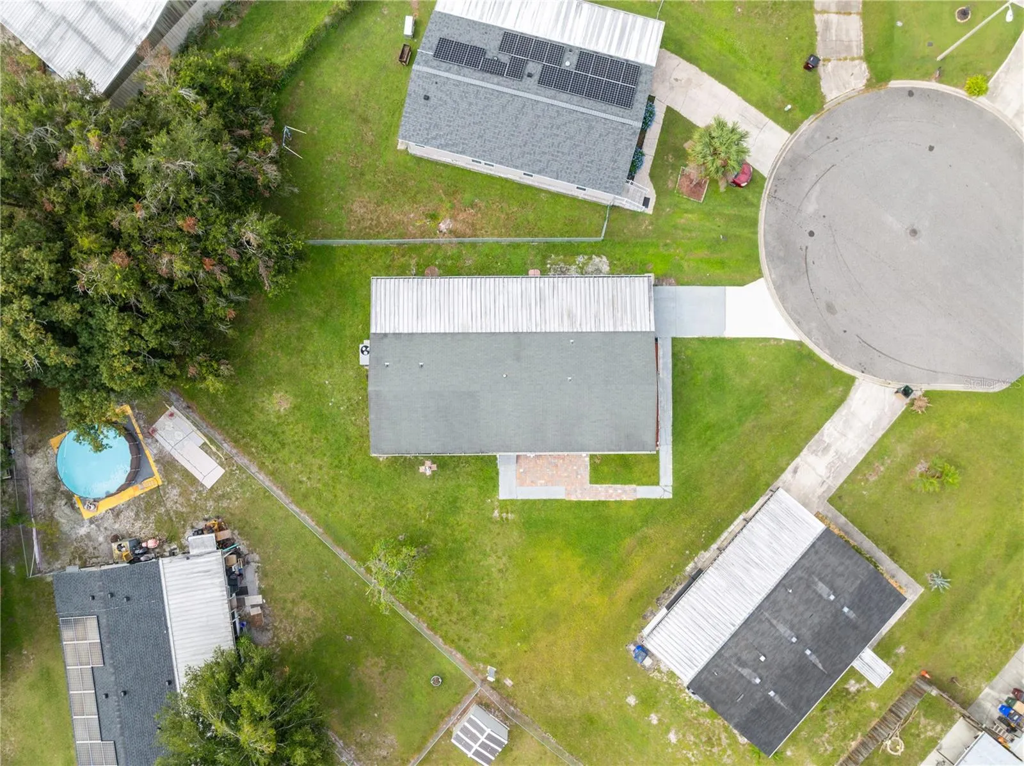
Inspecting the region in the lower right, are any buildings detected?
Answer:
Yes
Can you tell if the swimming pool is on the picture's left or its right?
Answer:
left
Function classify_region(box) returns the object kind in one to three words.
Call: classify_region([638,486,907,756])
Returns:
house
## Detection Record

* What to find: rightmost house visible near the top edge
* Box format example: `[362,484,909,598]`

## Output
[401,0,666,204]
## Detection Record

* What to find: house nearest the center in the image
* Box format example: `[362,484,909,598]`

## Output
[368,275,659,456]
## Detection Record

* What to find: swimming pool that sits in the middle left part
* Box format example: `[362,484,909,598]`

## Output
[55,425,142,501]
